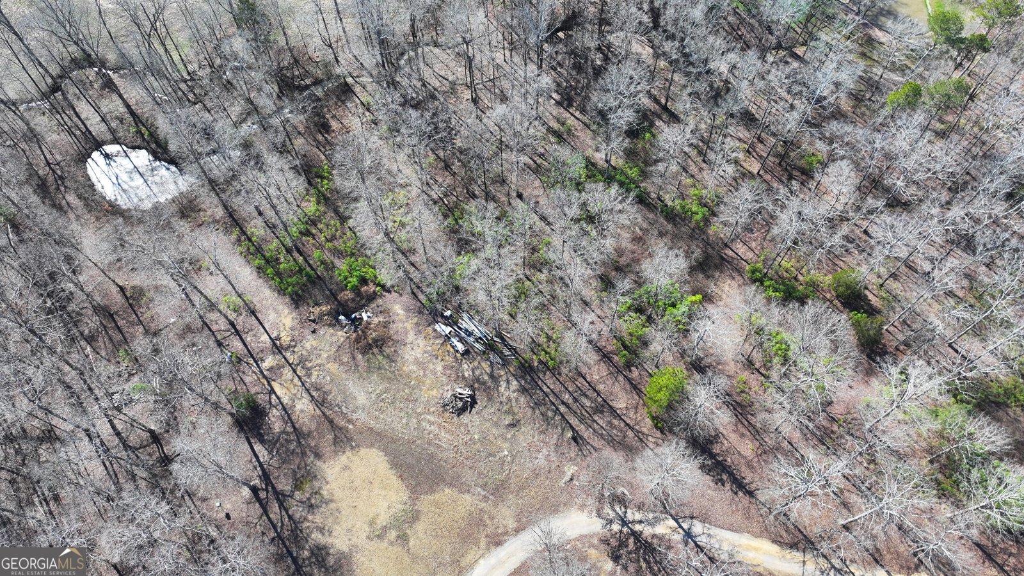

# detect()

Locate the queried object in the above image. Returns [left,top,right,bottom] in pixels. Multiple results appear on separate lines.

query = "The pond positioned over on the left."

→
[89,146,188,210]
